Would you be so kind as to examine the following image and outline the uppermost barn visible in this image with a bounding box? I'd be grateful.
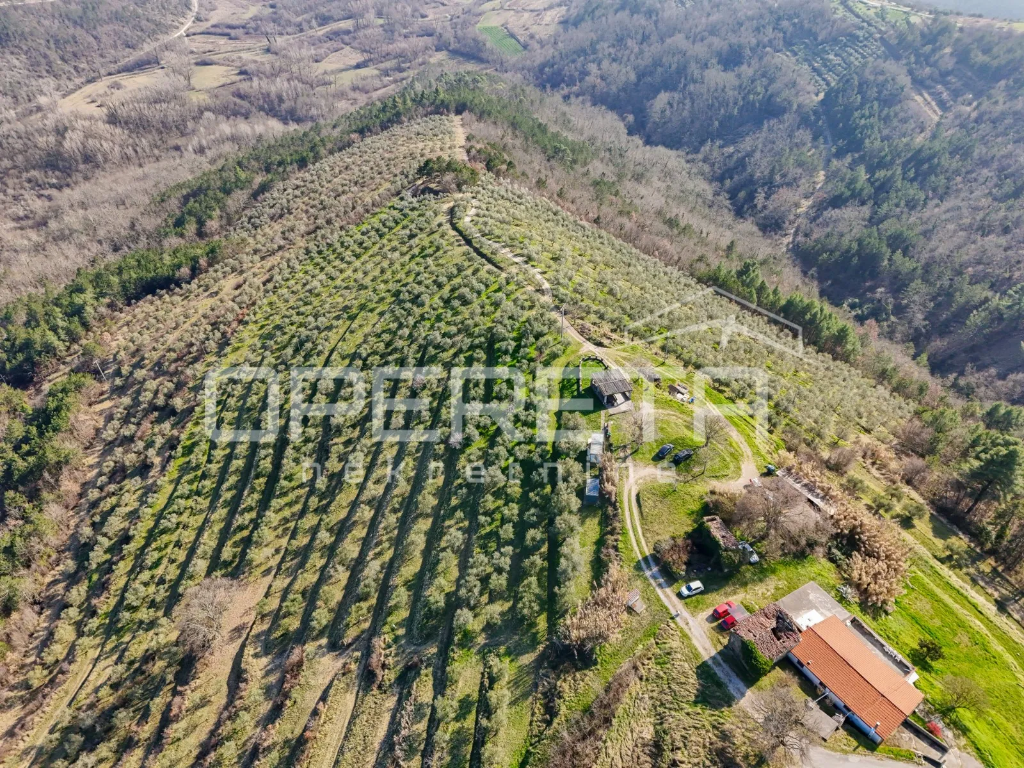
[587,367,633,411]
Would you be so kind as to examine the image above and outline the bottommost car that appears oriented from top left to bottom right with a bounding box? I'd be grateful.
[739,542,762,564]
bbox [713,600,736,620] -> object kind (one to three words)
car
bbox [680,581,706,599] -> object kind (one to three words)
car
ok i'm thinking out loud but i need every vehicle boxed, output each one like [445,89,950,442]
[680,581,706,599]
[656,442,676,458]
[675,445,696,462]
[739,542,762,564]
[722,616,744,632]
[713,600,736,620]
